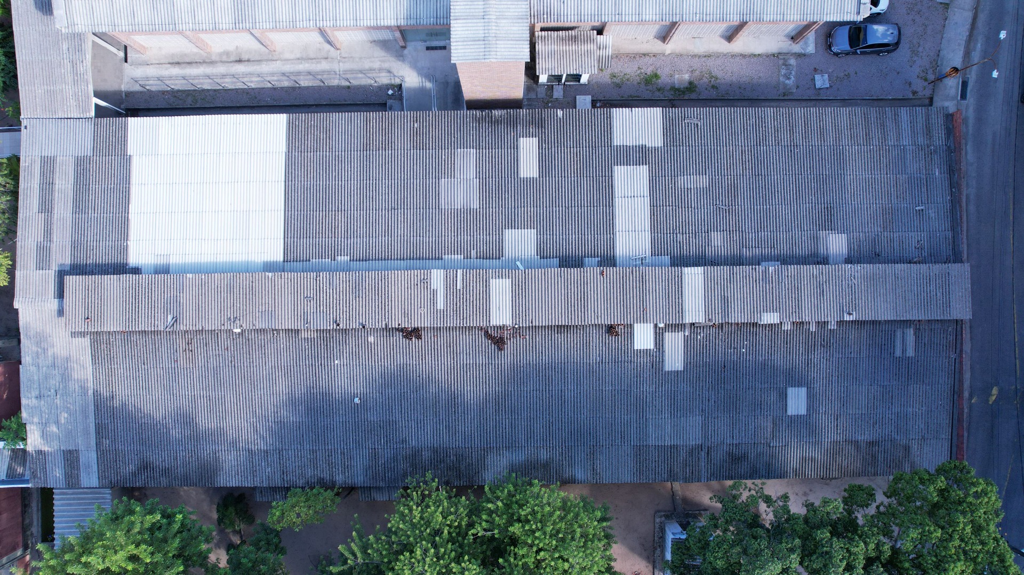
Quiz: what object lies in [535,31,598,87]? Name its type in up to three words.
shed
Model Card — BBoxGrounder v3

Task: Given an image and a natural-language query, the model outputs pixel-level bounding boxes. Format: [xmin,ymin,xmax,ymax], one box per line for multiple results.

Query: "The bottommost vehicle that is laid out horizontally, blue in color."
[827,21,903,58]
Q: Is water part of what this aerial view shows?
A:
No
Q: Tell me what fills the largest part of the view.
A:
buildings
